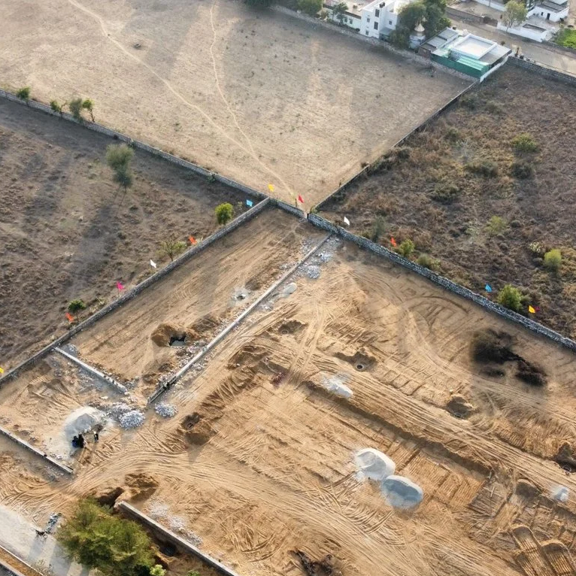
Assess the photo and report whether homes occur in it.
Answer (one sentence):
Yes, this view includes a home.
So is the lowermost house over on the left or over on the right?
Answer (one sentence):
It is on the right.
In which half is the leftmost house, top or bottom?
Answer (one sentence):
Seen from above, the leftmost house lies in the top half of the view.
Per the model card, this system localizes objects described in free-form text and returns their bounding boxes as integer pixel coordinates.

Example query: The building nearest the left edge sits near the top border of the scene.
[331,0,376,33]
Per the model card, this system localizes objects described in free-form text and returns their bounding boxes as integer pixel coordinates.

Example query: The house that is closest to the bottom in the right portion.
[420,28,511,78]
